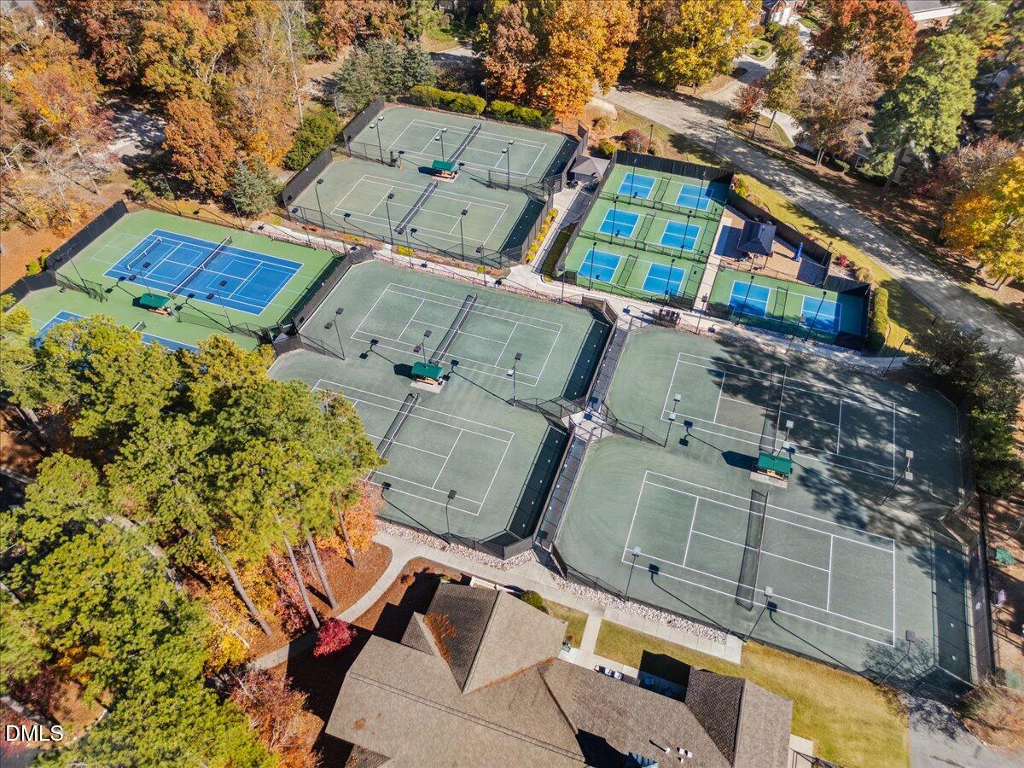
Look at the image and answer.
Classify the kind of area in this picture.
sports ground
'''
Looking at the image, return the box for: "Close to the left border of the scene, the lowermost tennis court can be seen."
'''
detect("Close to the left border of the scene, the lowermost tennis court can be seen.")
[0,285,266,417]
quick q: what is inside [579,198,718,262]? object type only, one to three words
sports court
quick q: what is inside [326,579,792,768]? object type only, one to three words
building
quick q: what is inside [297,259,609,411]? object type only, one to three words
tennis court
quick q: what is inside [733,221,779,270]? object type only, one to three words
building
